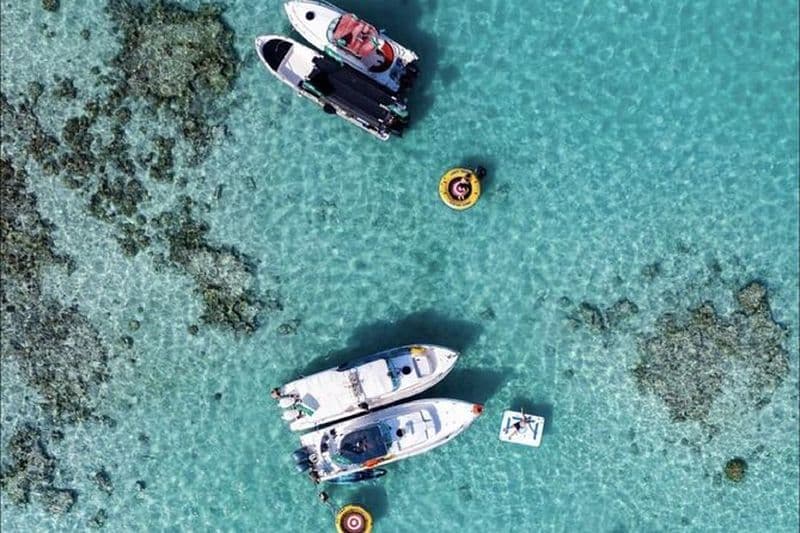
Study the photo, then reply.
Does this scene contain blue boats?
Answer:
Yes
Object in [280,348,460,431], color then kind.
white boat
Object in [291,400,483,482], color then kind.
white boat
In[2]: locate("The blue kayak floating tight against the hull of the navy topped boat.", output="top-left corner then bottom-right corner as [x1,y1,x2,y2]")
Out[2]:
[329,467,384,484]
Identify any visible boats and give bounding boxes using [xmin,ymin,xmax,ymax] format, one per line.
[283,0,418,94]
[280,348,460,431]
[255,36,409,139]
[291,400,483,482]
[329,467,384,484]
